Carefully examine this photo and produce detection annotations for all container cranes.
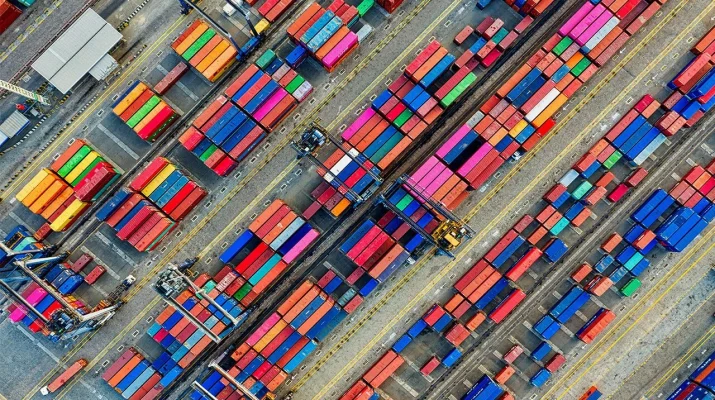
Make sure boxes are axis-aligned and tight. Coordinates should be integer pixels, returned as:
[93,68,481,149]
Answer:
[375,174,475,258]
[145,252,256,344]
[181,0,270,64]
[289,119,385,205]
[189,339,260,400]
[0,251,124,345]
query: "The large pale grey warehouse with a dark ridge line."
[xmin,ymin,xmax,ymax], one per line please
[32,6,126,98]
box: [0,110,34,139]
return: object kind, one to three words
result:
shed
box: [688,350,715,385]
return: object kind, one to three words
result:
shipping container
